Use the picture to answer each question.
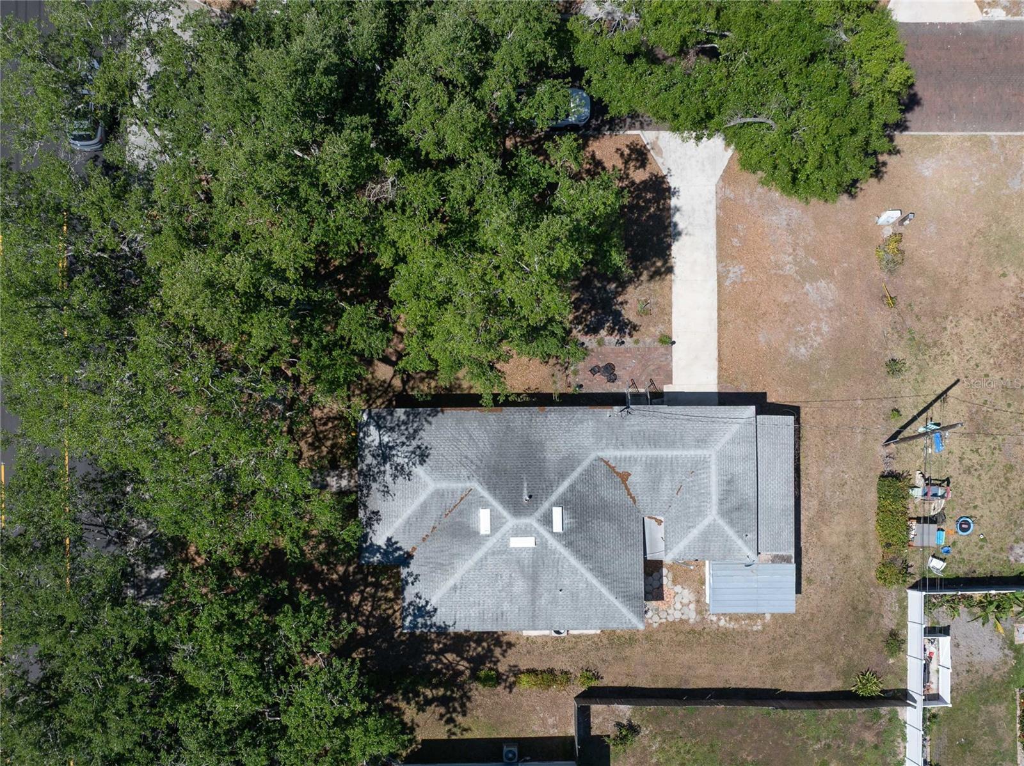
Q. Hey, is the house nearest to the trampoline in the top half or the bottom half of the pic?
bottom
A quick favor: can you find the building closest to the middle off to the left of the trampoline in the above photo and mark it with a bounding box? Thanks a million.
[359,381,796,635]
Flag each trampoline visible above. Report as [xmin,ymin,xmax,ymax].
[955,518,976,535]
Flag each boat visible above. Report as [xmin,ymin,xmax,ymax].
[878,210,902,225]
